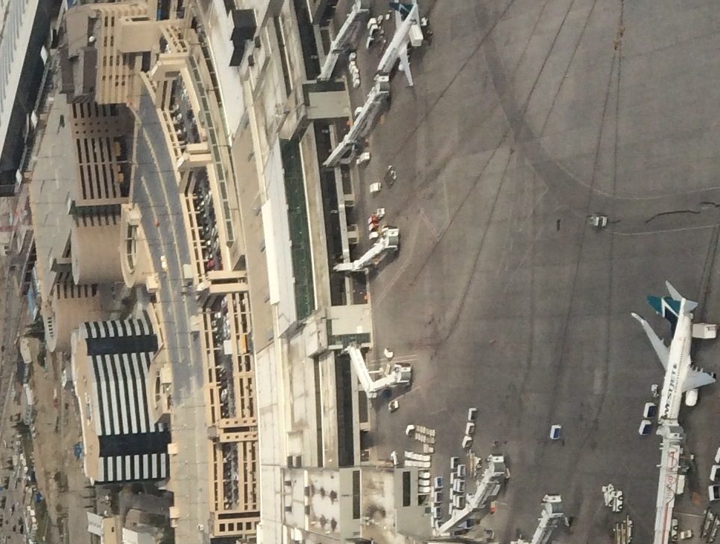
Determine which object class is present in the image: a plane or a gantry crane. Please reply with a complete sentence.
Of the two, only a plane appears.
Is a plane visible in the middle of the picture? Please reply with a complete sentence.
No, there's no plane to be seen in the middle of the picture.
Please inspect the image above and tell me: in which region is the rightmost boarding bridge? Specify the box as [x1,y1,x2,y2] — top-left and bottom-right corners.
[657,417,708,544]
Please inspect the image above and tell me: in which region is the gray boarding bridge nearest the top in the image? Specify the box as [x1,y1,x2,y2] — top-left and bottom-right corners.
[322,0,377,84]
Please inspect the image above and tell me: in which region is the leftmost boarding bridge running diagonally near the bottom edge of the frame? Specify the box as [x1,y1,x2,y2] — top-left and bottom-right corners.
[434,454,518,539]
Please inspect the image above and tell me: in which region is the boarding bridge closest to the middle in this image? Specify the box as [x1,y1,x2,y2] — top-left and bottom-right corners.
[336,229,406,275]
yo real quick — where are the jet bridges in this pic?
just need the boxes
[657,417,708,544]
[327,71,399,168]
[434,454,518,539]
[336,229,406,275]
[534,490,577,544]
[322,0,377,84]
[347,342,421,393]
